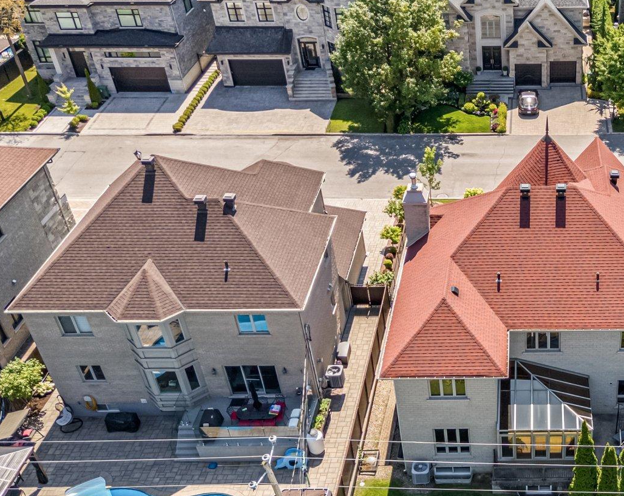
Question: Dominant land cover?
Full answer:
The largest share of the image is taken up by buildings.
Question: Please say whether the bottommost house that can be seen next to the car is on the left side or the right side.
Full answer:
The bottommost house that can be seen next to the car is on the right side of the image.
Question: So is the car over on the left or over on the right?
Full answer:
It is on the right.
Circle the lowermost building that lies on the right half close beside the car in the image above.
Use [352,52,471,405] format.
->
[376,119,624,496]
